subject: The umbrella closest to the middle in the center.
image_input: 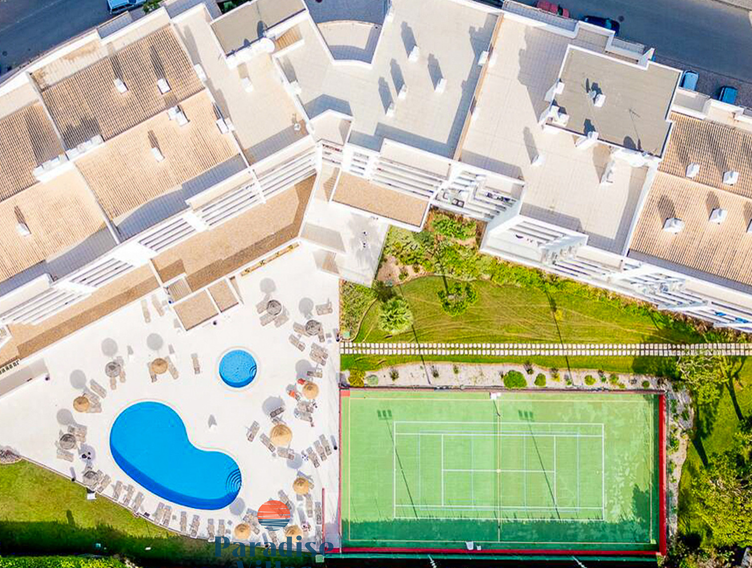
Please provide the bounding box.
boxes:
[305,320,321,337]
